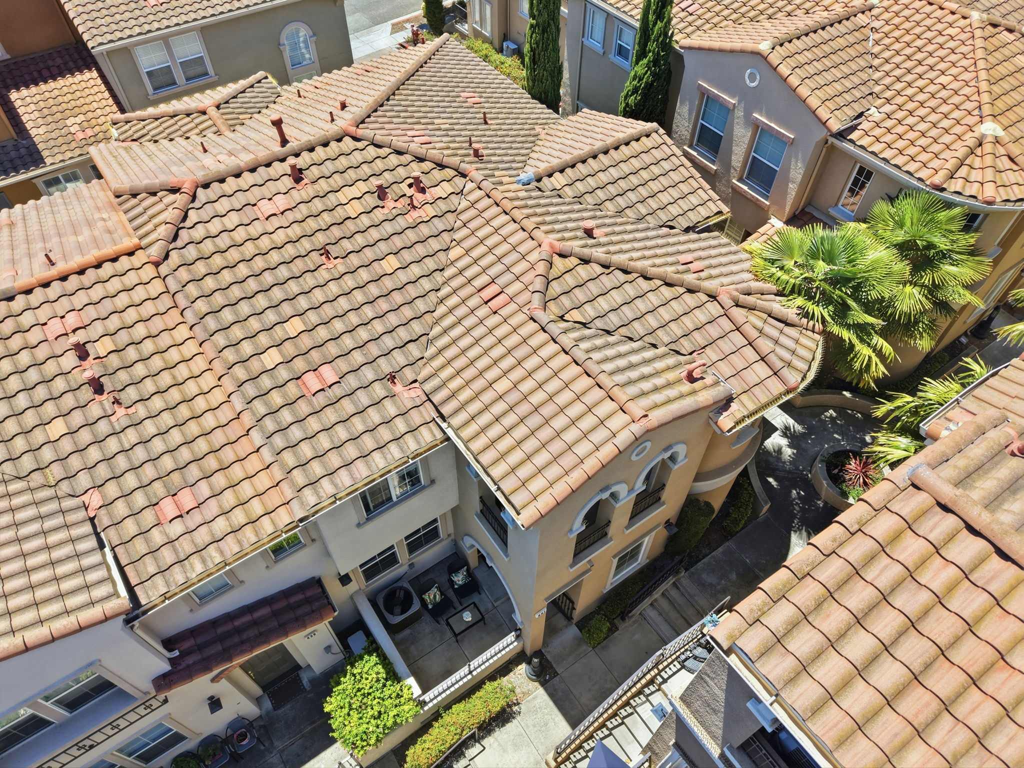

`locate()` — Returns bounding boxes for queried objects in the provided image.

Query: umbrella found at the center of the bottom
[570,738,611,768]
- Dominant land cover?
buildings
